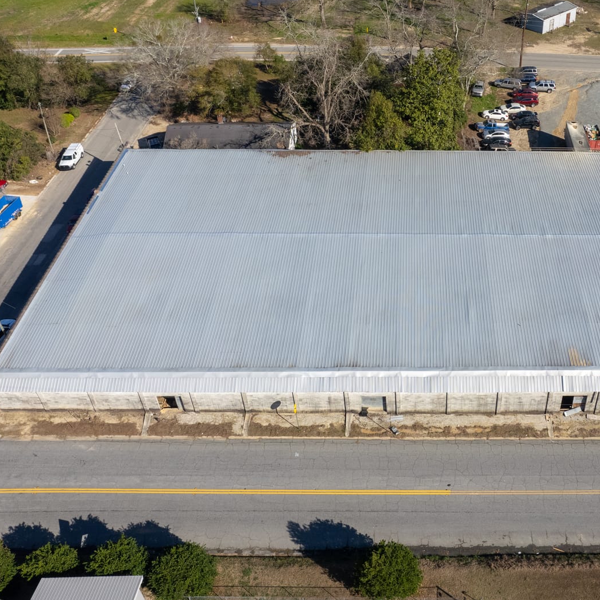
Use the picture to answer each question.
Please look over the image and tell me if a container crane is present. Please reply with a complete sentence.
No, I find no container crane anywhere in the image.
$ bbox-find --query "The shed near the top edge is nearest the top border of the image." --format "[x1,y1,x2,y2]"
[525,0,580,33]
